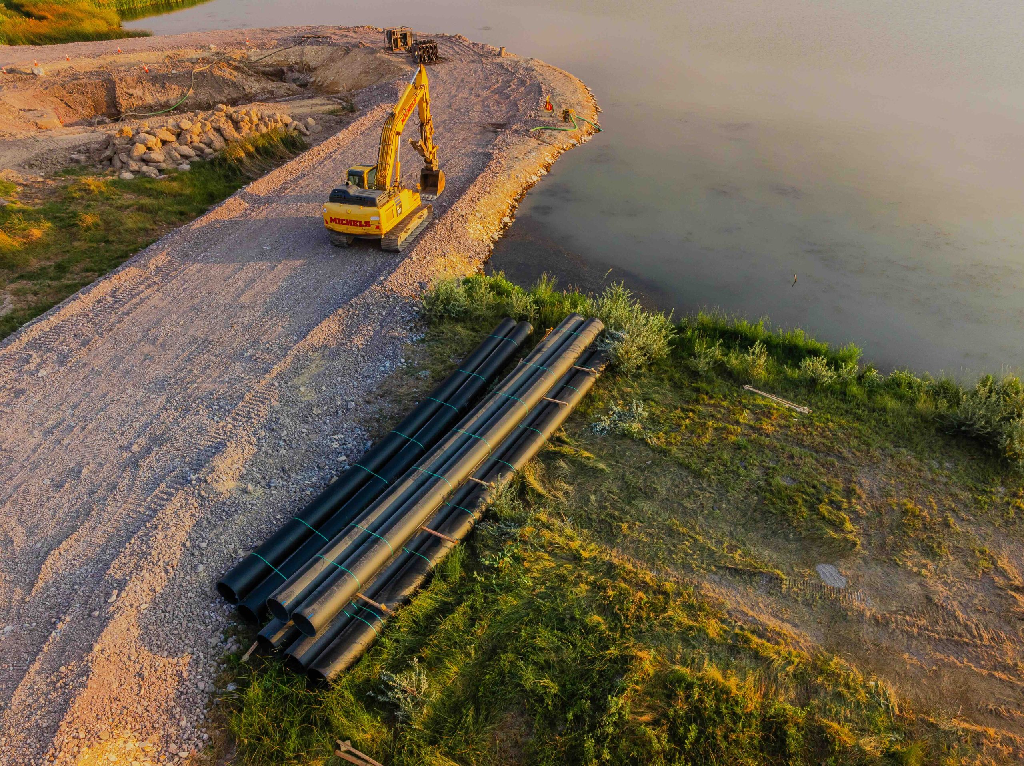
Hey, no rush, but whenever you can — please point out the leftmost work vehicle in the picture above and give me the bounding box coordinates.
[321,62,446,251]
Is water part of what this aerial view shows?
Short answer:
Yes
